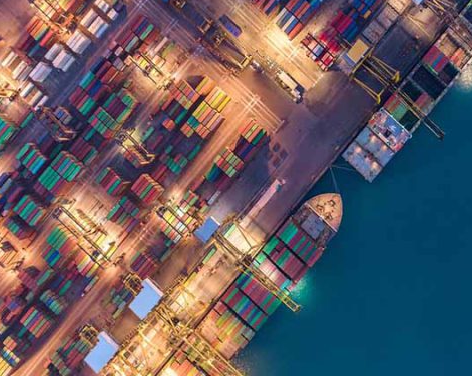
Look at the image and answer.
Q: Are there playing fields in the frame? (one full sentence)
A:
No, there appears to be no playing field in this shot.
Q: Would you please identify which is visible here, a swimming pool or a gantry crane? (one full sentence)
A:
Of the two, only a gantry crane appears.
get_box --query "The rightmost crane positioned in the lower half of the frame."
[192,206,304,309]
